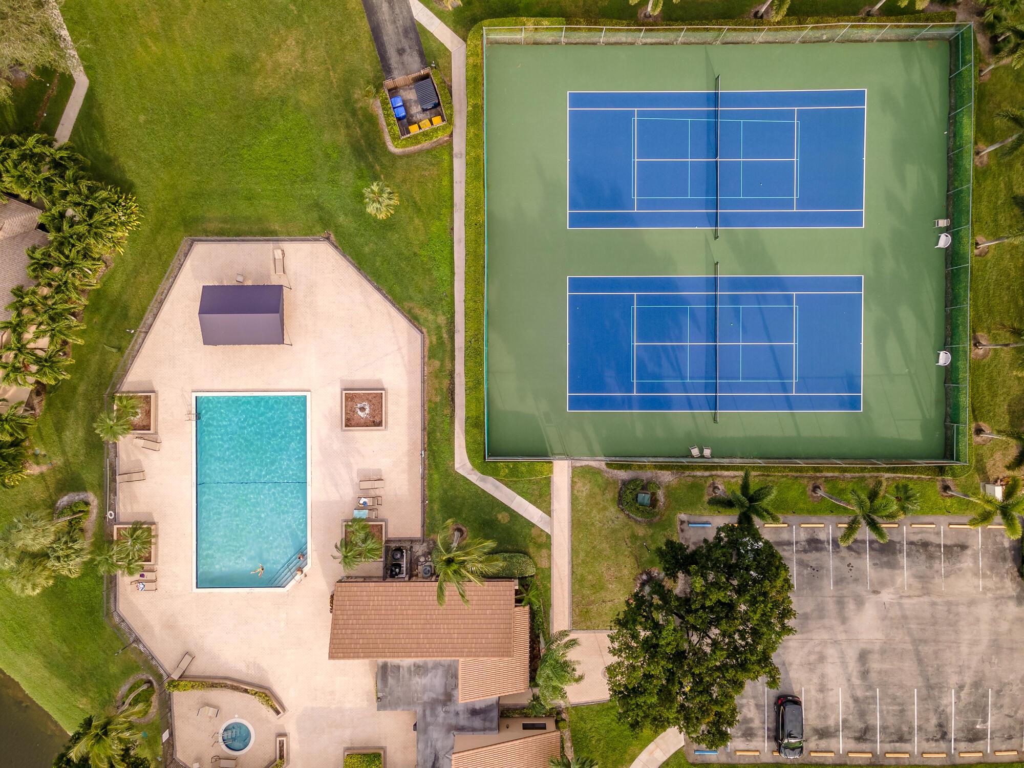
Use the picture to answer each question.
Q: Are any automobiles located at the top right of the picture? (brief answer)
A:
No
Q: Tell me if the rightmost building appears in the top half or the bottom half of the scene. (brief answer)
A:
bottom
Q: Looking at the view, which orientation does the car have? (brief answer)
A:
vertically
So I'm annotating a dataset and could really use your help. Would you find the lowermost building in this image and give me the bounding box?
[327,577,561,768]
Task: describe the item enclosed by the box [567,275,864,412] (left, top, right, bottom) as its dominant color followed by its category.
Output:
blue tennis court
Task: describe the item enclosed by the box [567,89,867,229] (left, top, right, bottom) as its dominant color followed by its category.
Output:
blue tennis court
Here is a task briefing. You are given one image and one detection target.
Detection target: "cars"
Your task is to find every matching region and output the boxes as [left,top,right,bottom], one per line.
[776,700,805,757]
